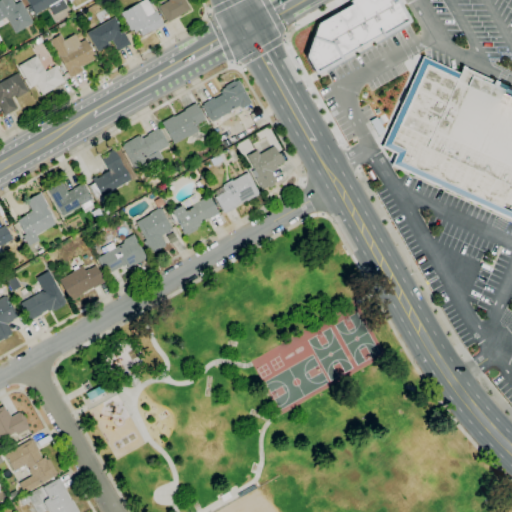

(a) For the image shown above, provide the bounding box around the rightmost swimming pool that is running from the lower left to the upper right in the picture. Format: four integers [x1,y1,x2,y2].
[176,184,196,202]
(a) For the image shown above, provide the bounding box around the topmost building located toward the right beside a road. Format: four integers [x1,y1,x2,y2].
[309,0,416,70]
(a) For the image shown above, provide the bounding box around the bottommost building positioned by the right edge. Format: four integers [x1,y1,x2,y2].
[383,55,512,218]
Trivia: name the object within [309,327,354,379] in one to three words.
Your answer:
basketball court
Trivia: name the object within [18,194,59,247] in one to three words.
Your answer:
house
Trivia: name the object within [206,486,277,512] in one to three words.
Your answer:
baseball field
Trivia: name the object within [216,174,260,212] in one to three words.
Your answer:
house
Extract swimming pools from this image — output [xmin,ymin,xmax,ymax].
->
[176,184,196,202]
[118,226,128,236]
[130,200,150,216]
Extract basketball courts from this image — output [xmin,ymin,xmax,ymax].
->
[336,313,376,366]
[309,327,354,379]
[266,354,330,409]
